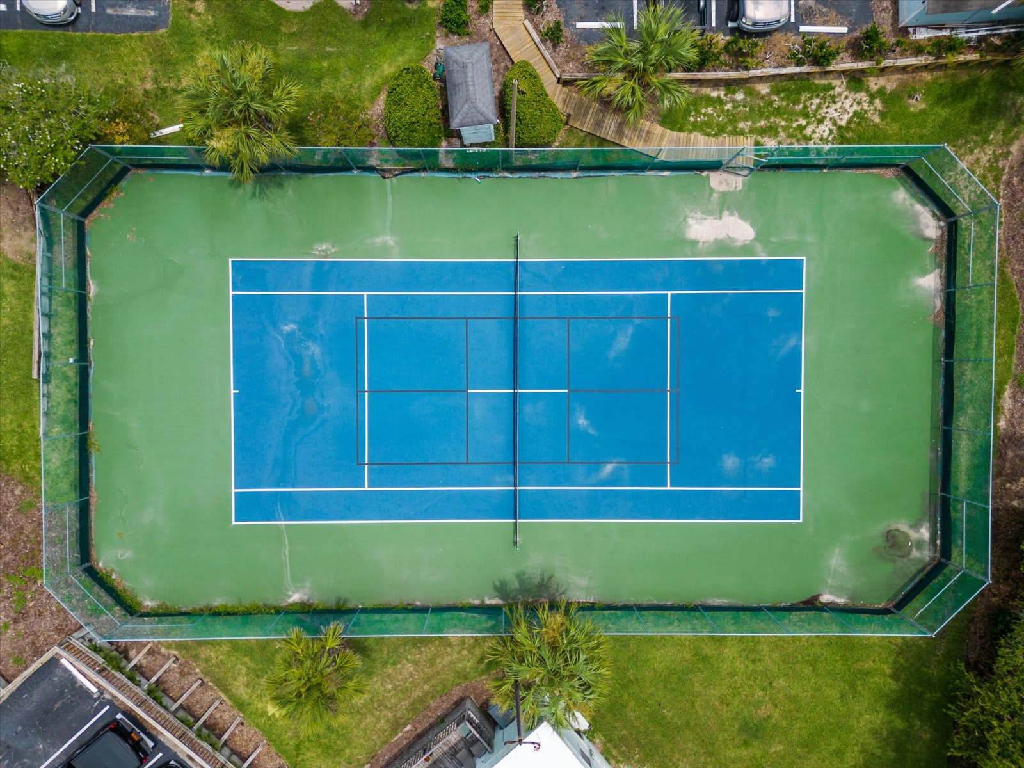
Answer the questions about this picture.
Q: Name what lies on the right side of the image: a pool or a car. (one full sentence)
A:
The feature located on the right side of the image is a car.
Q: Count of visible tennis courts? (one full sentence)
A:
The count comes to 1 tennis court.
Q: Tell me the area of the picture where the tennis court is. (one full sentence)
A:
The tennis court is located in the center region of the scene.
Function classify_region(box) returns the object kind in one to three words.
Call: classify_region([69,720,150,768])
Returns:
car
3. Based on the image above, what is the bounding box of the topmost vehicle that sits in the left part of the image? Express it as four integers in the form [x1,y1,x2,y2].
[28,0,85,27]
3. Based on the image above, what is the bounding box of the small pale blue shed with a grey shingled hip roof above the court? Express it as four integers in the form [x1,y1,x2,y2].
[443,41,498,147]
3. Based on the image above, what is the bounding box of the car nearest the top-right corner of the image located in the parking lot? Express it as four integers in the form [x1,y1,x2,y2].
[738,0,793,34]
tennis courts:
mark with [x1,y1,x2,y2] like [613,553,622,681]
[83,168,949,616]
